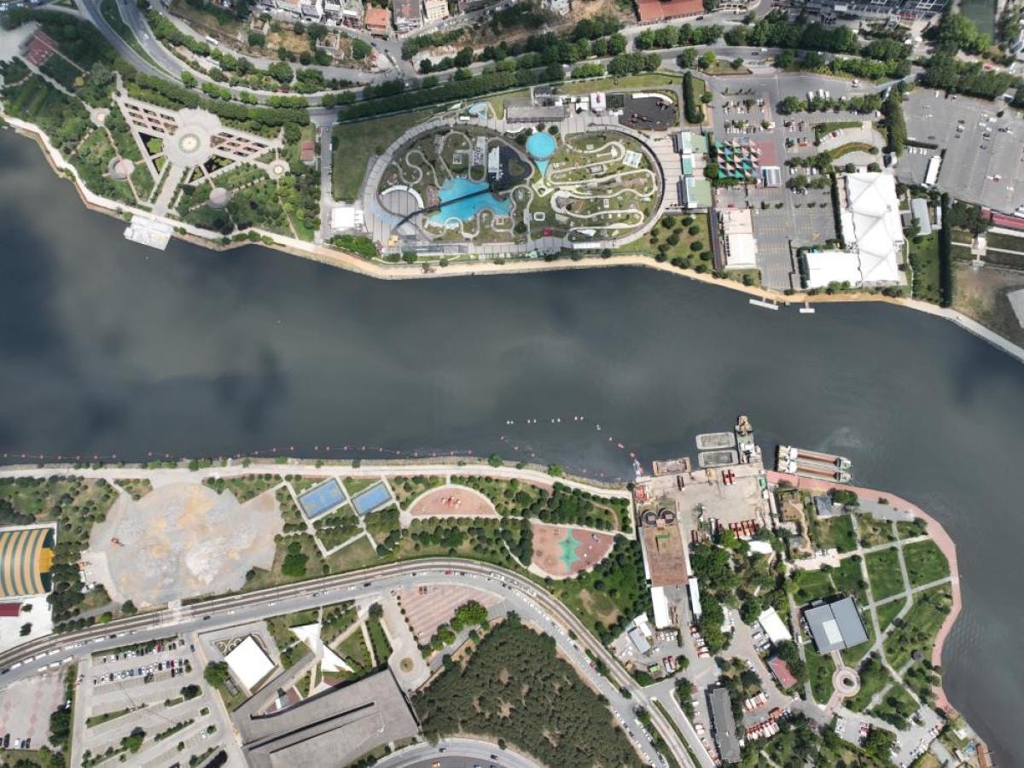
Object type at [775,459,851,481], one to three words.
ship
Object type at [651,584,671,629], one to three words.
shed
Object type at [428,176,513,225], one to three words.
swimming pool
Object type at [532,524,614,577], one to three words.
playground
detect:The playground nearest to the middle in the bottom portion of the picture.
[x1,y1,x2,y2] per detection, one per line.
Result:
[408,484,499,516]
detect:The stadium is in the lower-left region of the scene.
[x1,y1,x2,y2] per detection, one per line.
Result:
[0,526,60,597]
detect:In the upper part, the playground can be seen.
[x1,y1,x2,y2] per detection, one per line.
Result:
[618,93,676,129]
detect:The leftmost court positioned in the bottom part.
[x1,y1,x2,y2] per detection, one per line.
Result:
[298,478,347,520]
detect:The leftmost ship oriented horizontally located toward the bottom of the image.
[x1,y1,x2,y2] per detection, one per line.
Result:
[652,457,691,476]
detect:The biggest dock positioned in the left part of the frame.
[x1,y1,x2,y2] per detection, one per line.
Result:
[123,215,173,251]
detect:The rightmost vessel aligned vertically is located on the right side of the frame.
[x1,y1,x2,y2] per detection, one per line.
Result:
[734,415,763,463]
